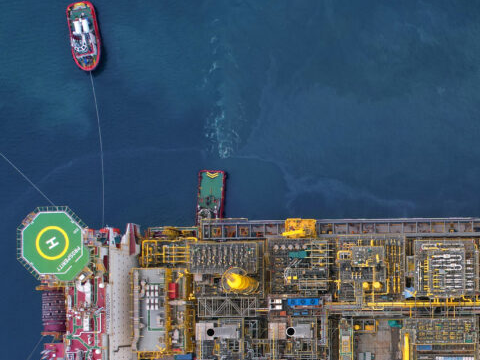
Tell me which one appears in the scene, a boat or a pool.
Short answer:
boat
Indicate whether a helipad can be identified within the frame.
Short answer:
Yes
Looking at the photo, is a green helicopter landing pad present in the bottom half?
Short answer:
Yes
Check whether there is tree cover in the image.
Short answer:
No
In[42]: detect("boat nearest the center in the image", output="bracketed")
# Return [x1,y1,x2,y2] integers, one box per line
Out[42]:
[195,170,225,229]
